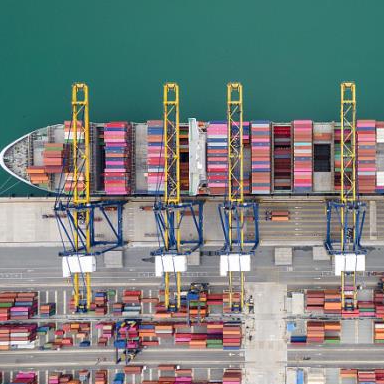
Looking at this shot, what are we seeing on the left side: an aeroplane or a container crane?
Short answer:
container crane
